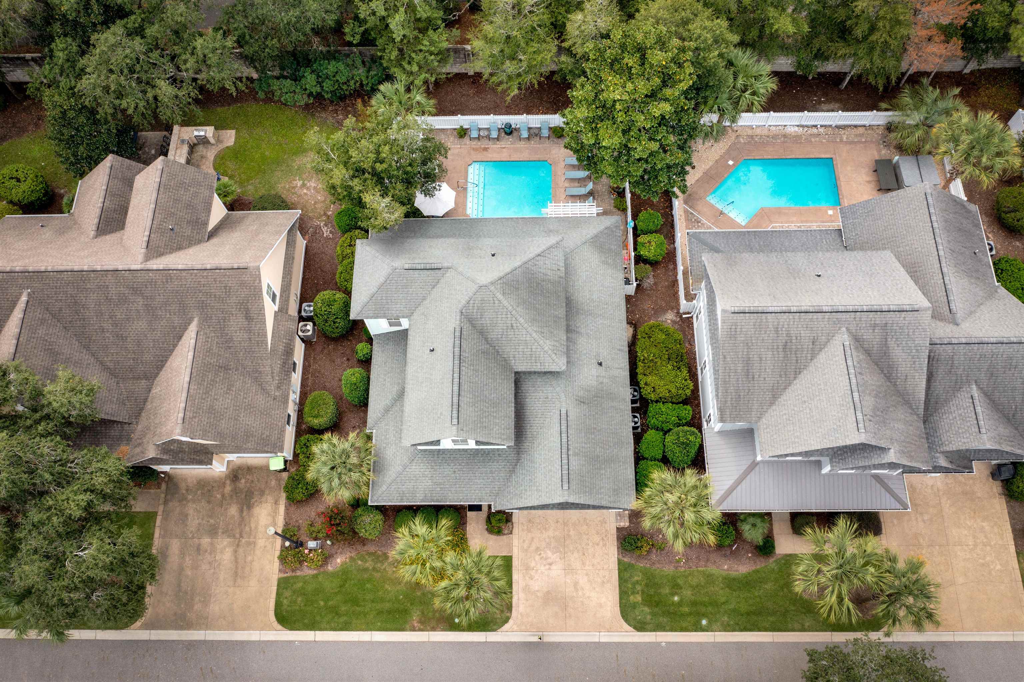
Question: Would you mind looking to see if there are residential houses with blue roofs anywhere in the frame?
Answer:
No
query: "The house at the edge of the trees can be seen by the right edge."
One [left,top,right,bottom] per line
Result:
[685,186,1024,514]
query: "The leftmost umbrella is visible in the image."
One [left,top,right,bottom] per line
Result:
[415,184,456,216]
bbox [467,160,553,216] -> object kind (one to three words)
swimming pool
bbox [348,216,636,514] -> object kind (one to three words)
house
